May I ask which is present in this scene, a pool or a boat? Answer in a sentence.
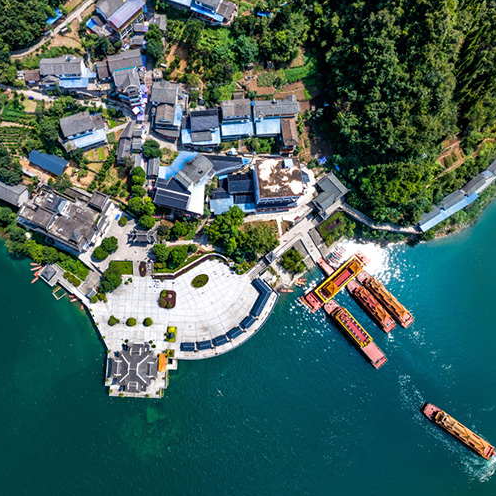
Visible in the photo is a boat.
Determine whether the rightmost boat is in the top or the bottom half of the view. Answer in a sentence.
Seen from above, the rightmost boat lies in the bottom half of the view.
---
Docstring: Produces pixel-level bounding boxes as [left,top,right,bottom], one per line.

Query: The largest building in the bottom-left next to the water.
[105,341,164,395]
